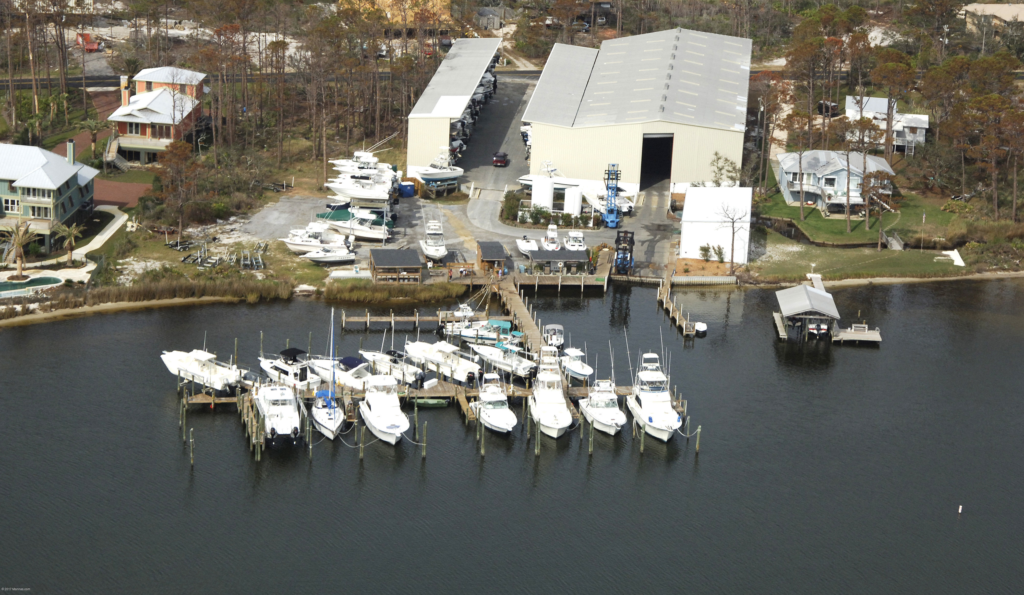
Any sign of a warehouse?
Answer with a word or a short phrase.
Yes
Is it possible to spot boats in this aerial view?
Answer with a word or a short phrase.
Yes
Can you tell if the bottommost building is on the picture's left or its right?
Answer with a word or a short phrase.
right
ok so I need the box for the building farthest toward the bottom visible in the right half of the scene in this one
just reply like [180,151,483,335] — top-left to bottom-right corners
[777,274,885,345]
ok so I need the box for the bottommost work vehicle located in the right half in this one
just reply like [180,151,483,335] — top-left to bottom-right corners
[615,229,638,274]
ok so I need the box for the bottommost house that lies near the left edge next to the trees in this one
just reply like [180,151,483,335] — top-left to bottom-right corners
[0,133,107,269]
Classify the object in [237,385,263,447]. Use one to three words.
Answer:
pier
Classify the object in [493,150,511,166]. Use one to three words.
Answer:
vehicle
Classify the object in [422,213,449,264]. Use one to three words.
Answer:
boat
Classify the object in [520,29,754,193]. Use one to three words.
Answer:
warehouse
